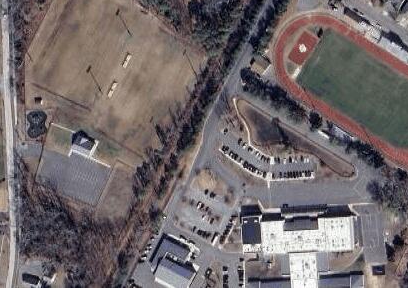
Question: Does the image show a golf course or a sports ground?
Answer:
sports ground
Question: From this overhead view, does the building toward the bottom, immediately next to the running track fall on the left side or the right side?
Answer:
right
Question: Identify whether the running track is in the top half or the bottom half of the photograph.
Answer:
top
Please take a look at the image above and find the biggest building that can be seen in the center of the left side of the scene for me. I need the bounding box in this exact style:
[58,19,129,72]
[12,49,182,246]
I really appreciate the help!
[72,134,98,157]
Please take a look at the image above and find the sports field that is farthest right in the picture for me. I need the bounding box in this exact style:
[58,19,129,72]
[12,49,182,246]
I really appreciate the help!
[283,25,408,149]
